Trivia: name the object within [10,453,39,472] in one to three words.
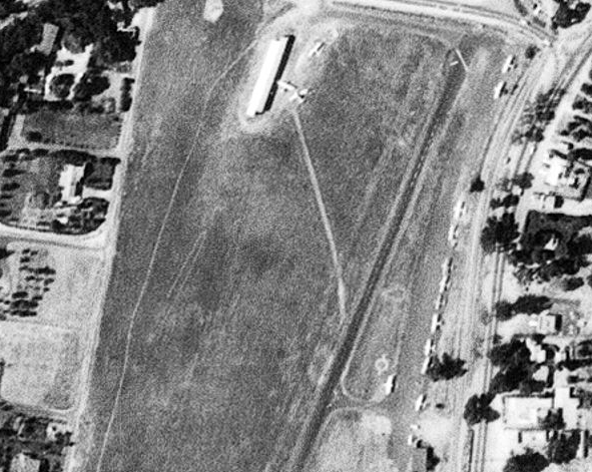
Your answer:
house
